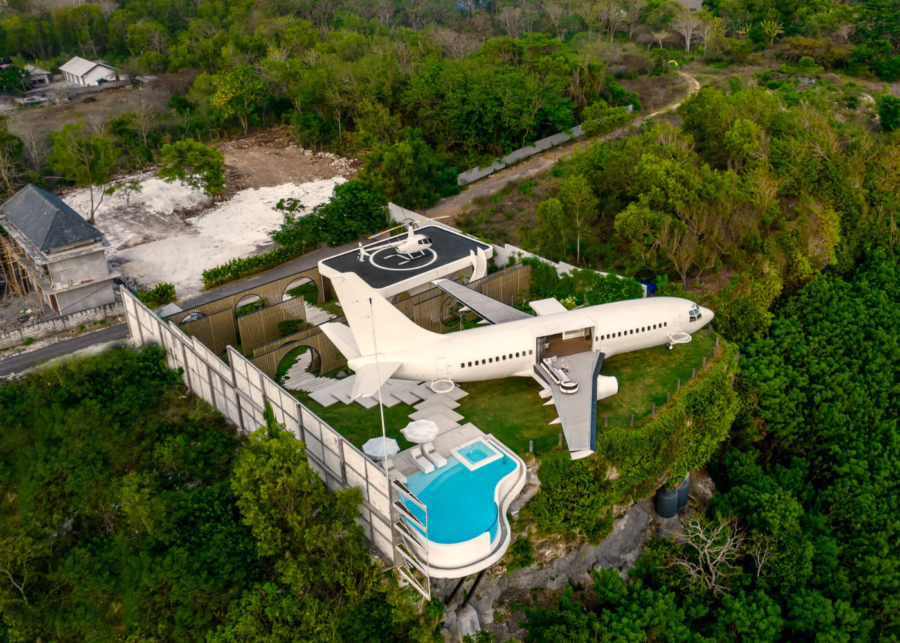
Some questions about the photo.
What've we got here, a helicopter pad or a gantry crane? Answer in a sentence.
Visible in the photo is a helicopter pad.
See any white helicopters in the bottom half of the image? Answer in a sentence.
No, no white helicopter can be made out in the bottom half of the image.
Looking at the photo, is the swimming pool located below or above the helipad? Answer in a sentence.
As seen from overhead, the swimming pool falls below the helipad in the picture.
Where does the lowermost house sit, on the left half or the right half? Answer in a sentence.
It is on the left.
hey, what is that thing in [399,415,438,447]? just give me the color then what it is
white umbrella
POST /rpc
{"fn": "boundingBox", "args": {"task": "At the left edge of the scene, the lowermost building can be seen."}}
[0,187,121,314]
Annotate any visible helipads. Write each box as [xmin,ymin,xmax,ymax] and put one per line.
[323,225,489,314]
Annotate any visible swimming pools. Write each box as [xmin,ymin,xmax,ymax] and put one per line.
[398,435,527,603]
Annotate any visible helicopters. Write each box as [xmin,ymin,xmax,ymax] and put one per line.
[356,217,449,264]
